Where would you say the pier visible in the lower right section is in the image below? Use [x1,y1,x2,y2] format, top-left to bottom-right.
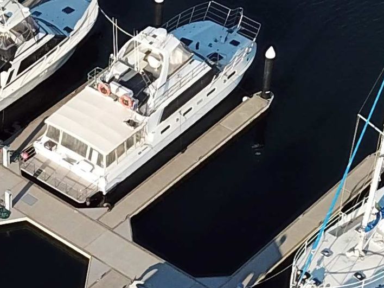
[192,148,384,288]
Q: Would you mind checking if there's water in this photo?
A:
Yes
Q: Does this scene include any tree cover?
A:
No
